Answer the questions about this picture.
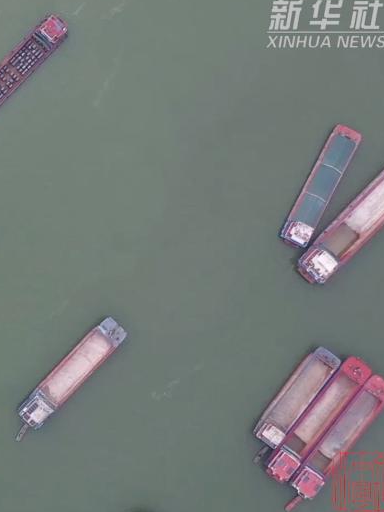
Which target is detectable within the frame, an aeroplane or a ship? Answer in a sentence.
Looking from above, you can make out a ship.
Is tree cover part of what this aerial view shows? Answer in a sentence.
No, the picture contains no tree cover.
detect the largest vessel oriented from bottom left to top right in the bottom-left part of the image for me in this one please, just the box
[19,316,127,429]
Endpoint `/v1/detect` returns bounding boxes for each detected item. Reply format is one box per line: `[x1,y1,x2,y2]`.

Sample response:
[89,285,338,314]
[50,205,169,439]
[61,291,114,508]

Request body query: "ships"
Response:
[0,14,69,106]
[300,168,384,288]
[19,316,127,429]
[254,344,342,448]
[266,354,373,483]
[280,124,361,248]
[289,373,384,500]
